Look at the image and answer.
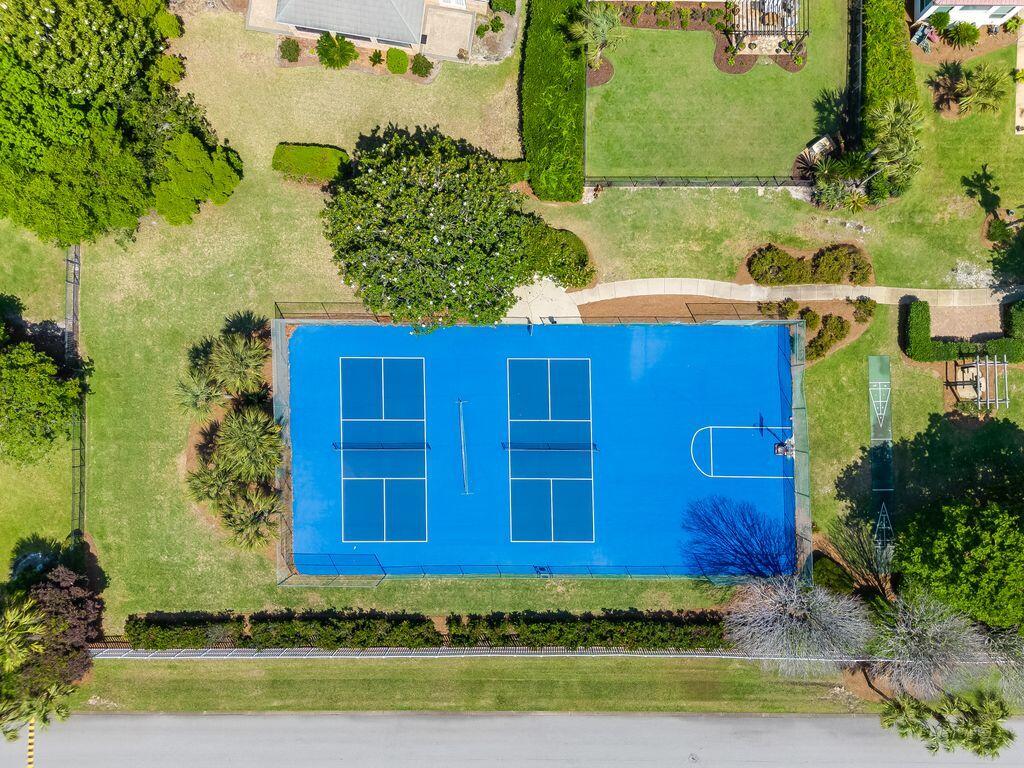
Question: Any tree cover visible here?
Yes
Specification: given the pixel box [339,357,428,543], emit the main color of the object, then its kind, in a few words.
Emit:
blue sports court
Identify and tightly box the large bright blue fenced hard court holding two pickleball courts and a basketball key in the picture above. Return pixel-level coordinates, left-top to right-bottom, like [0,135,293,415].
[289,325,798,576]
